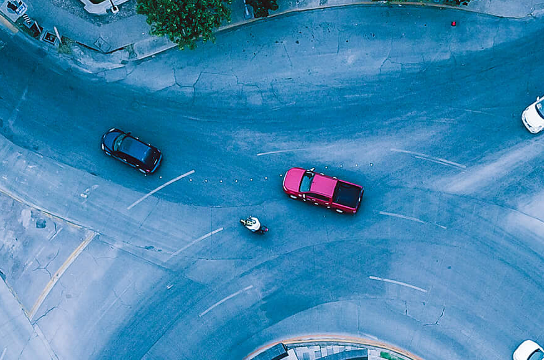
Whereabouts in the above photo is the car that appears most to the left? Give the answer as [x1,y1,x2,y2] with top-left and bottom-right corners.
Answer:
[99,128,165,175]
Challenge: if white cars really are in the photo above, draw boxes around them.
[510,338,544,360]
[518,96,544,135]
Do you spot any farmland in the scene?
No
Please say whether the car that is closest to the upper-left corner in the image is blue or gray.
blue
